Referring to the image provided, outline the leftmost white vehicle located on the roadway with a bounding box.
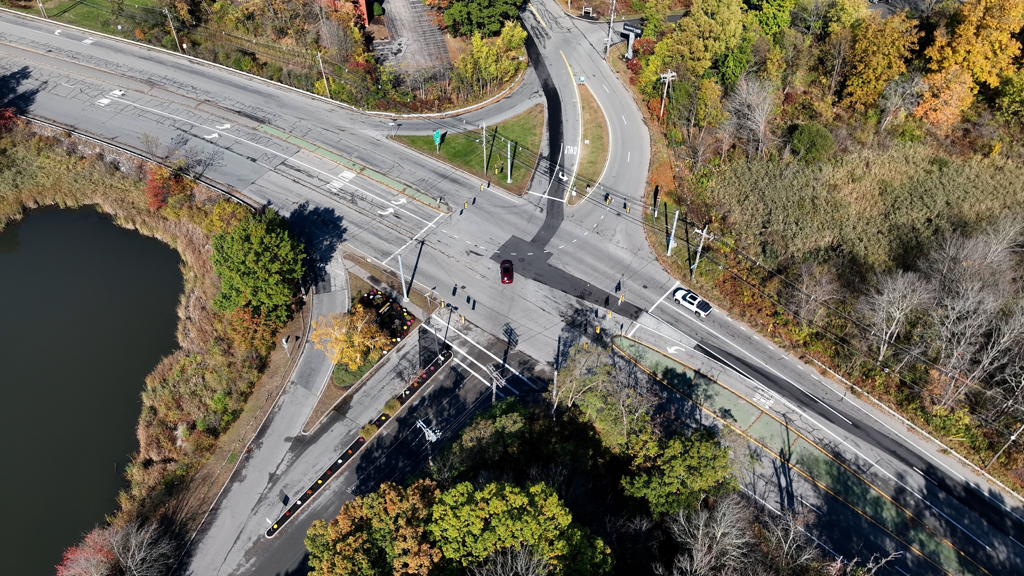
[674,291,713,319]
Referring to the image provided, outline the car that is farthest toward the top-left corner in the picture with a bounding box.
[500,262,514,284]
